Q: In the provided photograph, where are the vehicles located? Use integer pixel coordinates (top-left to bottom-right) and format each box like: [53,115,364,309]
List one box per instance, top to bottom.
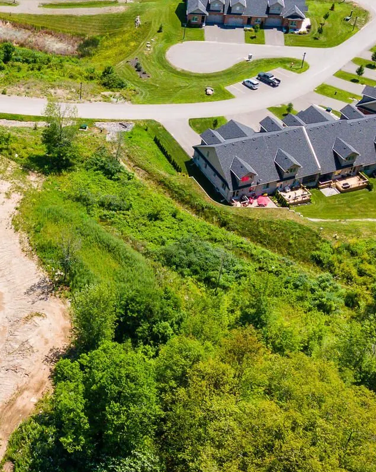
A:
[258,69,281,83]
[243,74,262,87]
